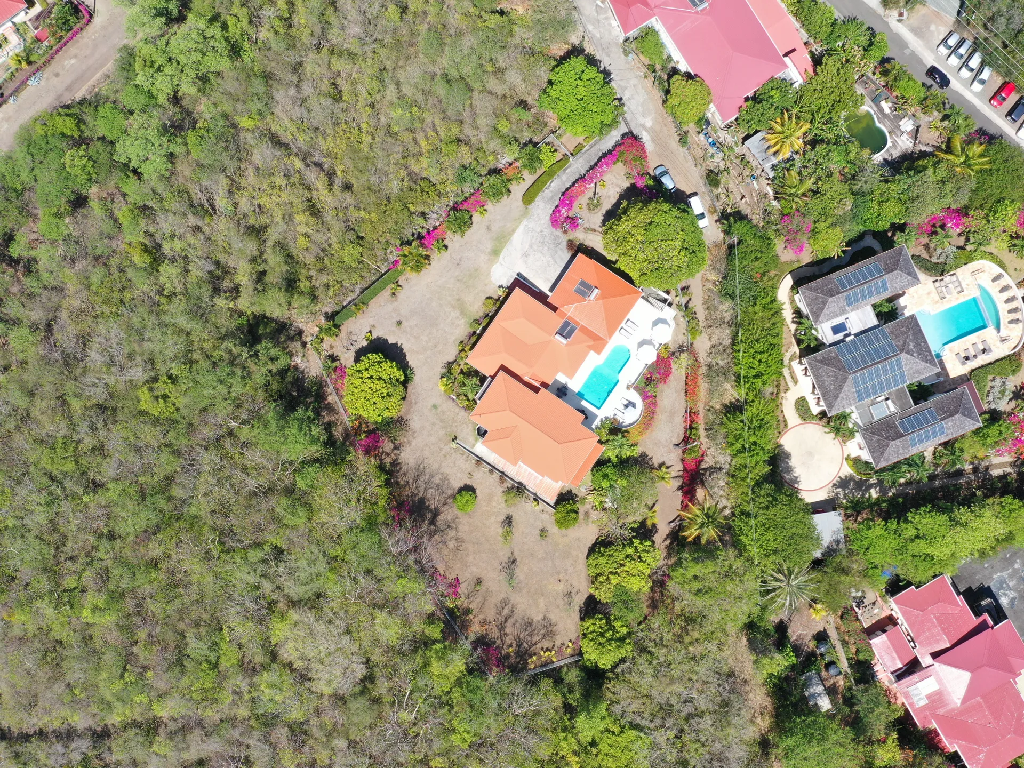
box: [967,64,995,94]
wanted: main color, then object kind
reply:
white car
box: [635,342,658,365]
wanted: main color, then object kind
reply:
white umbrella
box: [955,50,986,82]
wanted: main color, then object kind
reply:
white car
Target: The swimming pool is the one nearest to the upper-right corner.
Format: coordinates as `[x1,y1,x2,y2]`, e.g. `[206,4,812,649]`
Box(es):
[837,104,889,157]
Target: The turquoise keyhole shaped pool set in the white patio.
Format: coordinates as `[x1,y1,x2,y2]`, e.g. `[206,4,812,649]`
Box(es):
[576,345,631,409]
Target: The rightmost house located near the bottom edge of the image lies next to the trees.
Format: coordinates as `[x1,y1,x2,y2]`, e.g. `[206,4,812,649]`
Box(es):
[847,576,1024,768]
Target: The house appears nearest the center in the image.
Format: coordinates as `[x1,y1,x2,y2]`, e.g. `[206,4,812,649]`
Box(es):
[466,253,643,502]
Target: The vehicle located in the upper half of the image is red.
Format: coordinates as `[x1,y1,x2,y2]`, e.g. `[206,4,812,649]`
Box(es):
[986,80,1018,110]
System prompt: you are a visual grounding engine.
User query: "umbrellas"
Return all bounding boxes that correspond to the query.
[624,405,637,417]
[649,321,673,345]
[635,342,658,365]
